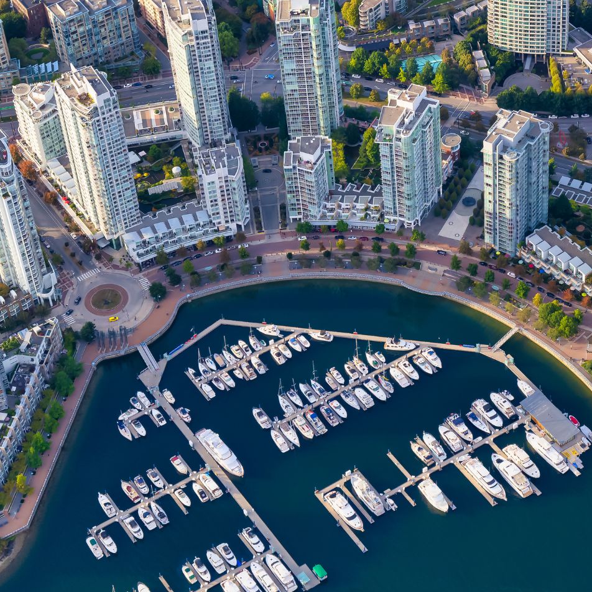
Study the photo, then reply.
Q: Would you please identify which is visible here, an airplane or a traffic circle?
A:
traffic circle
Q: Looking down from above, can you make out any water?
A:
Yes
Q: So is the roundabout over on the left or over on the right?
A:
left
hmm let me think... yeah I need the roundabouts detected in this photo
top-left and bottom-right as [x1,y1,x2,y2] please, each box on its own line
[65,269,147,330]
